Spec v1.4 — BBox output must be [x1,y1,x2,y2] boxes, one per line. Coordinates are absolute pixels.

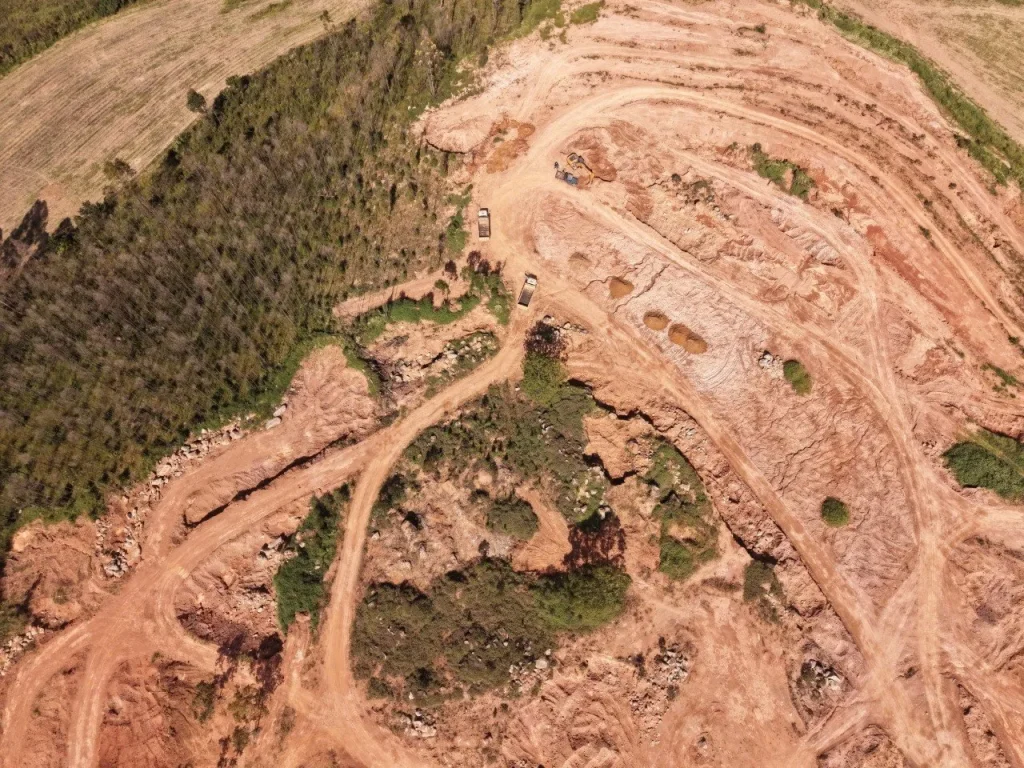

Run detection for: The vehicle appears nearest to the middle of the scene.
[517,273,537,306]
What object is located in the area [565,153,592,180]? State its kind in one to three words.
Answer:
work vehicle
